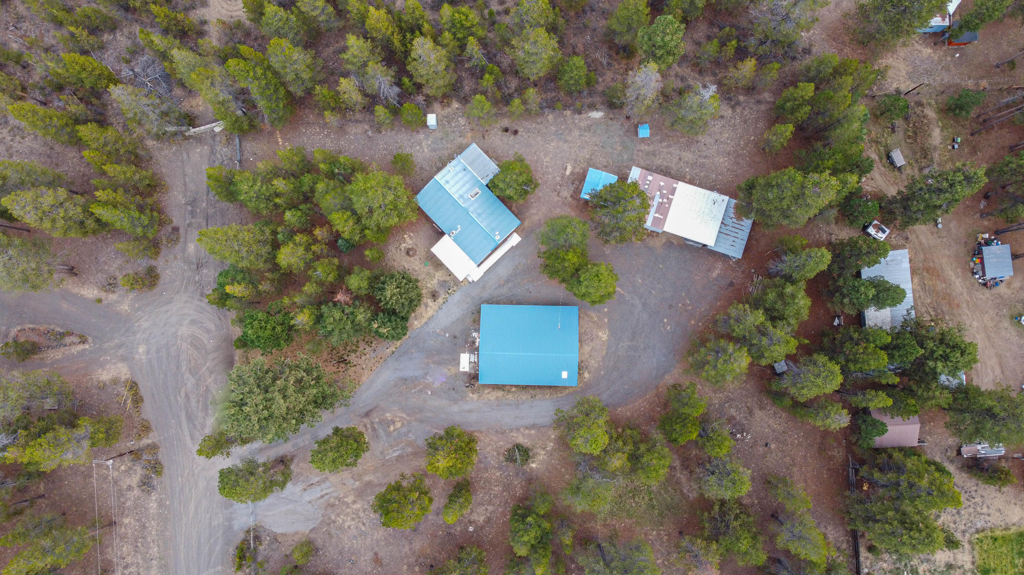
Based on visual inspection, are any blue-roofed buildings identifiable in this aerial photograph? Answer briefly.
Yes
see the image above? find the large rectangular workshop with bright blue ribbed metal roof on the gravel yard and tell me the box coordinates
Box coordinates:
[475,304,579,387]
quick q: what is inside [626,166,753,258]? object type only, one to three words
shed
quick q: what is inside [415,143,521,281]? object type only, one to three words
house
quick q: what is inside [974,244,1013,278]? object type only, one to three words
shed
